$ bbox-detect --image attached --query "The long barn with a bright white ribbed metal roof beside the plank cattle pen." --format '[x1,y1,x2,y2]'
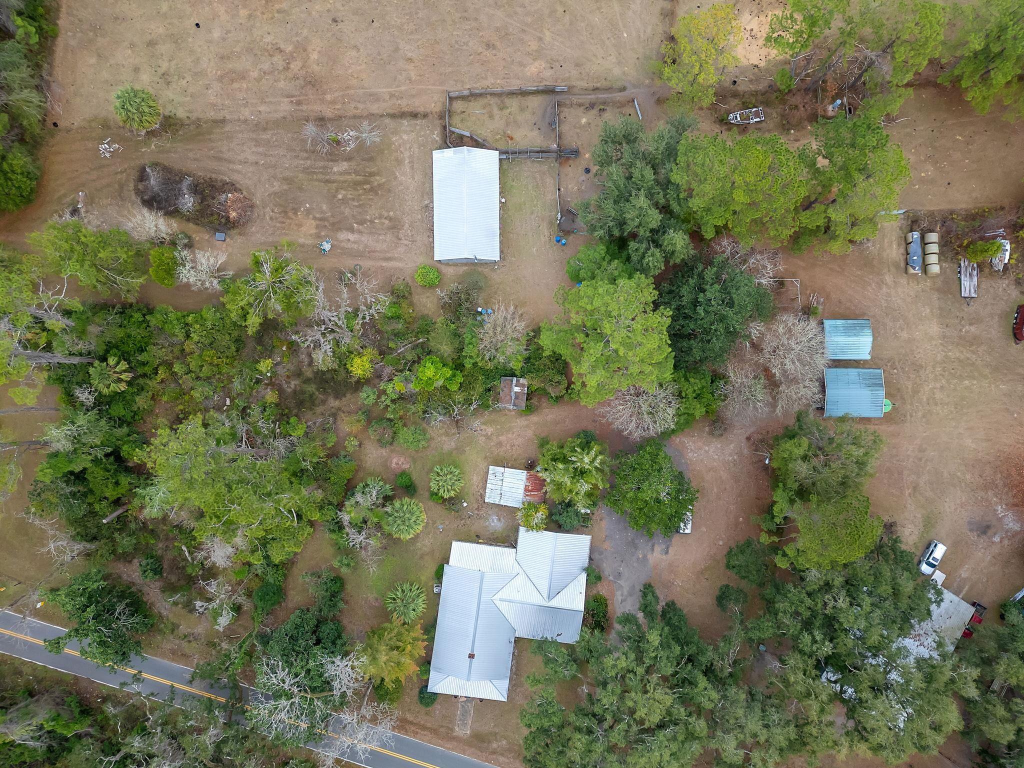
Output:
[432,146,500,263]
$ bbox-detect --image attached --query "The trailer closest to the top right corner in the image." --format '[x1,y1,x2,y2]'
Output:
[955,262,980,306]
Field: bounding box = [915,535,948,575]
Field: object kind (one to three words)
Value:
car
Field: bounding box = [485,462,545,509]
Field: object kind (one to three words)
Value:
shed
